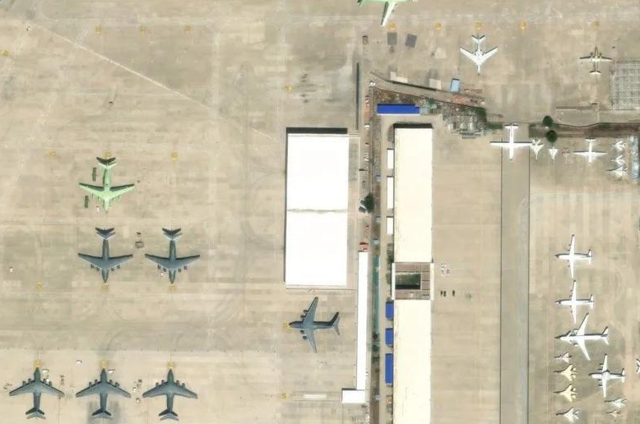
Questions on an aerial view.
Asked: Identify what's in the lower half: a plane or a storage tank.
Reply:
plane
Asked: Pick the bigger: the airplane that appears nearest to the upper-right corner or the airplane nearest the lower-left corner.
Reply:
the airplane nearest the lower-left corner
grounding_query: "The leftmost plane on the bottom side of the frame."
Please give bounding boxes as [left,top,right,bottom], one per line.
[9,368,64,420]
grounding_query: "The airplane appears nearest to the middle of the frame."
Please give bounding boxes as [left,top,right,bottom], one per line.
[289,296,339,352]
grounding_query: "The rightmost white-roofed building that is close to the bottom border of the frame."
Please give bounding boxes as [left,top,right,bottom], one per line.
[393,301,431,424]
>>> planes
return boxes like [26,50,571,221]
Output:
[557,364,576,381]
[145,233,200,284]
[579,46,613,72]
[557,354,572,363]
[289,296,339,352]
[77,233,133,283]
[574,139,607,164]
[612,156,627,164]
[608,411,621,418]
[9,368,64,420]
[557,281,594,324]
[375,0,407,26]
[529,137,545,158]
[614,142,628,150]
[590,355,626,397]
[556,236,593,278]
[548,146,559,160]
[607,164,628,180]
[143,369,198,421]
[556,385,577,401]
[460,36,498,75]
[491,125,533,160]
[78,161,133,212]
[606,394,627,411]
[76,368,131,420]
[558,408,579,424]
[558,314,612,361]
